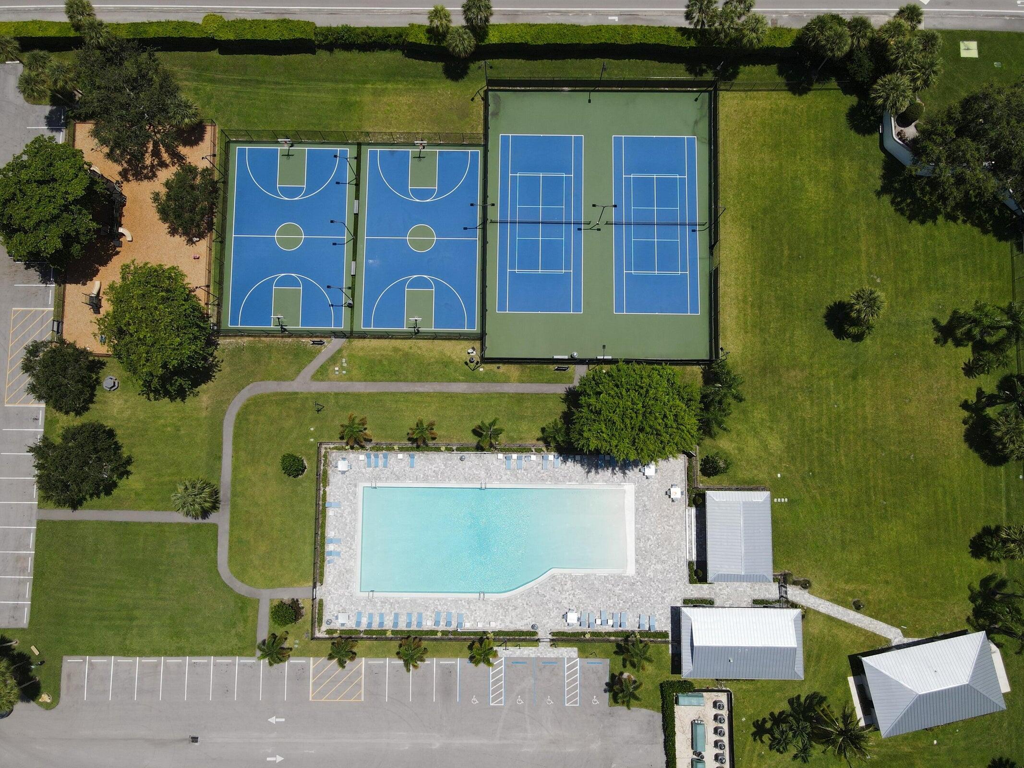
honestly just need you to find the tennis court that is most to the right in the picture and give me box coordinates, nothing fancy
[598,90,713,361]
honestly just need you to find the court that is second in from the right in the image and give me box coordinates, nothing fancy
[486,90,599,361]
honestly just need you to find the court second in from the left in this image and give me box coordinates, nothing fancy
[353,143,484,338]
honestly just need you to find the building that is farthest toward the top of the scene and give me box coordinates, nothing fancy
[703,491,774,583]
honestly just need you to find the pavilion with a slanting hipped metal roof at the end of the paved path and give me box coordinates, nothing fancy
[853,627,1007,738]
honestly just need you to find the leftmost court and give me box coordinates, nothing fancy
[220,141,357,336]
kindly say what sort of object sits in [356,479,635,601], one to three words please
swimming pool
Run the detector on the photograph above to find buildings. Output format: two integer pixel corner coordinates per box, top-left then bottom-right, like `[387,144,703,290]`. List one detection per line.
[853,627,1007,738]
[677,605,804,680]
[703,491,774,583]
